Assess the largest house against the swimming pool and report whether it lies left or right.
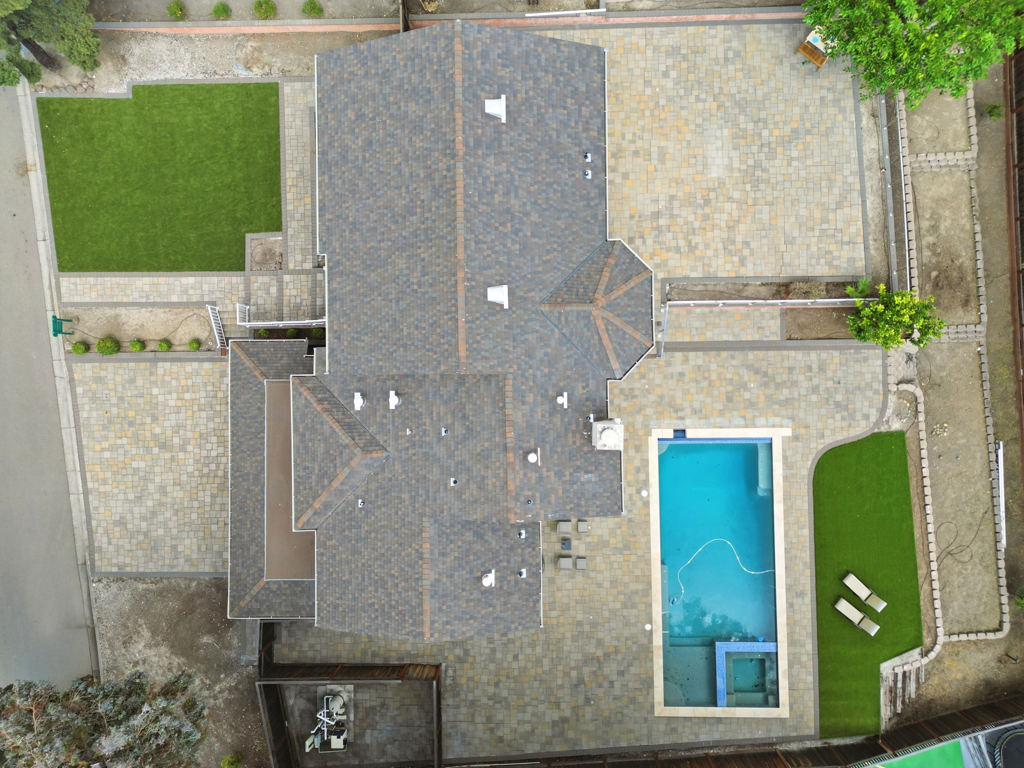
on the left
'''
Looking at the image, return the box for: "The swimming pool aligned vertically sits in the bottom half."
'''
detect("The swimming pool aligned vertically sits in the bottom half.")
[648,428,792,718]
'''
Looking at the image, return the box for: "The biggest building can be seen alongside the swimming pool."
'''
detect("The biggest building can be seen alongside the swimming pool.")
[226,17,657,642]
